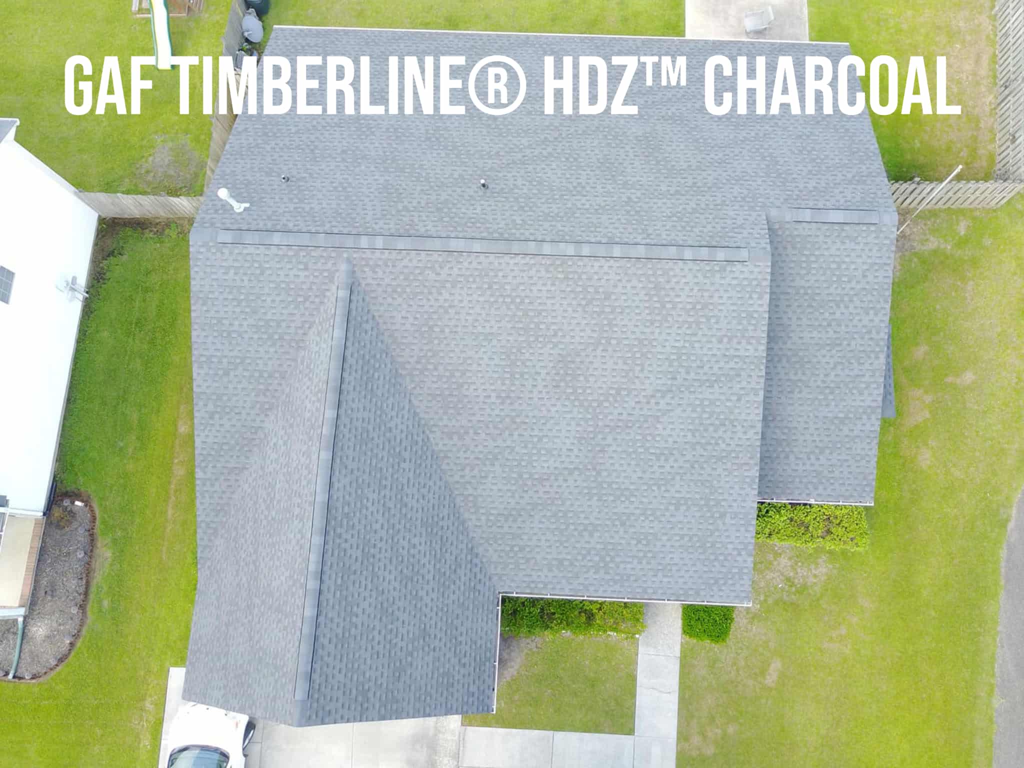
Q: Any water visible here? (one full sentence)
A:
No, there is no water in the image.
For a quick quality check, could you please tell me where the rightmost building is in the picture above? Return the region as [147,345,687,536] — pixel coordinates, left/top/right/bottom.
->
[181,24,901,727]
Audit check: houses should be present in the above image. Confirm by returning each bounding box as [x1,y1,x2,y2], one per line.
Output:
[0,124,101,620]
[181,24,901,727]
